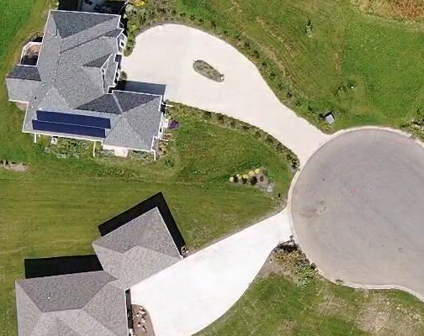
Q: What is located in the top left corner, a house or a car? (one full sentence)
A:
What appears in the top left corner is a house.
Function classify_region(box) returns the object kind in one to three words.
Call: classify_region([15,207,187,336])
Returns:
house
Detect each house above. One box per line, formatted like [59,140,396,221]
[15,207,187,336]
[7,9,170,161]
